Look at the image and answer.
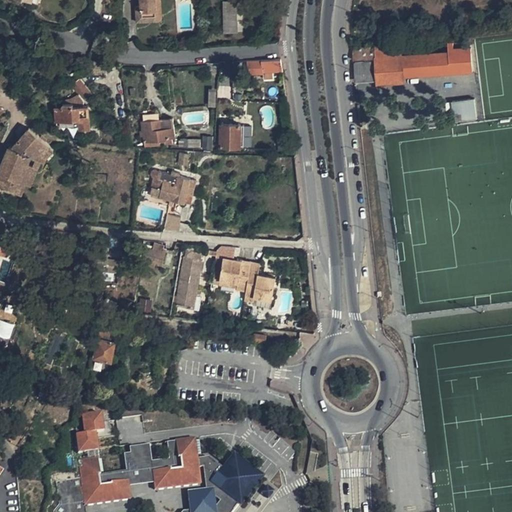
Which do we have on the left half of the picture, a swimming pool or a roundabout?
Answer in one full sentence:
Visible on the left half of the picture is a swimming pool.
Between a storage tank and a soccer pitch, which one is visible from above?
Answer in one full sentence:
There is a soccer pitch in the scene.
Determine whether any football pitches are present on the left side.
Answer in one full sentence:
No, the scene shows no football pitch on the left side.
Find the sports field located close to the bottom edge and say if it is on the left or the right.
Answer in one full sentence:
It is on the right.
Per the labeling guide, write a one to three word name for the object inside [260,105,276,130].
swimming pool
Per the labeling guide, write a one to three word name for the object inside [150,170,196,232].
house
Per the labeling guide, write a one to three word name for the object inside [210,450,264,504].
building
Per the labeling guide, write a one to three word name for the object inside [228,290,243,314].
swimming pool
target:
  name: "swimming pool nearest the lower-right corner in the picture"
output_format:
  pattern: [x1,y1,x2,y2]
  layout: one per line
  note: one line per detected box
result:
[269,288,294,316]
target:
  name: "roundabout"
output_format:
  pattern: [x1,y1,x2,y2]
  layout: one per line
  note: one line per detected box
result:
[318,353,382,417]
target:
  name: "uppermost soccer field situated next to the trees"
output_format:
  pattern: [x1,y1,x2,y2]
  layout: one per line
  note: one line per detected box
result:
[476,34,512,120]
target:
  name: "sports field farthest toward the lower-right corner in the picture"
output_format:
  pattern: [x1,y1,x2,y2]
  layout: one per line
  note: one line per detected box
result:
[414,324,512,512]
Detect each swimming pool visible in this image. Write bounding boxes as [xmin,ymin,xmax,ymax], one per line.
[268,86,279,98]
[260,105,276,130]
[0,257,11,284]
[137,202,167,226]
[182,110,208,126]
[269,288,294,316]
[176,0,195,32]
[228,290,243,314]
[66,452,74,467]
